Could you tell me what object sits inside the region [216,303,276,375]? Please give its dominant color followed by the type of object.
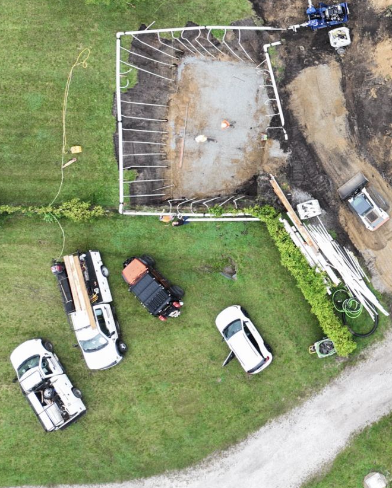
white car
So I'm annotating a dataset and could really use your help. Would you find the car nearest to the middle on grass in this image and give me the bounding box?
[117,248,192,324]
